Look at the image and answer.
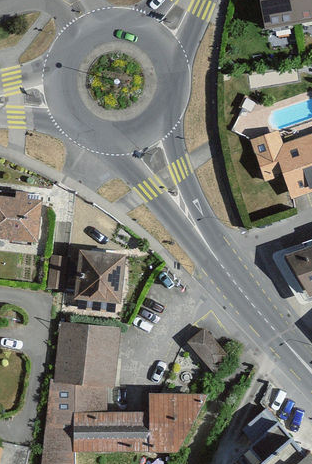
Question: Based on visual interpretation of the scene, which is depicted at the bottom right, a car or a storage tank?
car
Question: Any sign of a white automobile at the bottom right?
Yes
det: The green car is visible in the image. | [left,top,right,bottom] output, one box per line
[114,28,138,42]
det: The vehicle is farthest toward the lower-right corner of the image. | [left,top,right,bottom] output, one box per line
[290,408,305,432]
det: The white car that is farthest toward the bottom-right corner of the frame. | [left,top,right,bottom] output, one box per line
[271,389,287,410]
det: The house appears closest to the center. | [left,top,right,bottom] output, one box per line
[74,250,126,304]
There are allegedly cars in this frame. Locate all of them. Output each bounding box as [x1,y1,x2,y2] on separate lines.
[134,316,154,333]
[280,398,296,420]
[160,270,176,289]
[114,28,138,42]
[84,224,108,244]
[0,338,23,349]
[271,389,287,410]
[152,360,168,382]
[148,0,166,10]
[144,298,166,314]
[290,408,305,432]
[140,306,161,324]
